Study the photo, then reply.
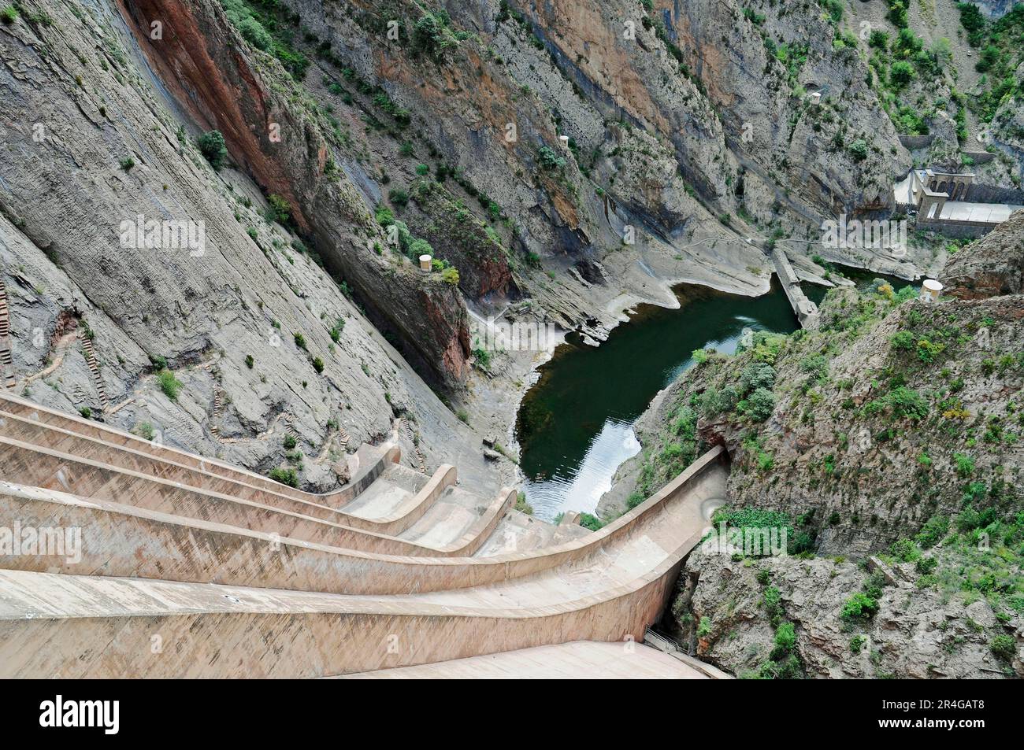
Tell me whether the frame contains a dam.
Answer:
Yes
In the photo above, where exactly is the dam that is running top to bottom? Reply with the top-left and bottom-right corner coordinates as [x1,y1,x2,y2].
[772,241,817,321]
